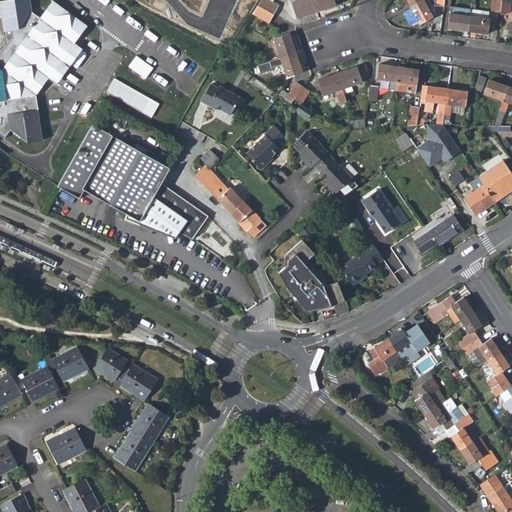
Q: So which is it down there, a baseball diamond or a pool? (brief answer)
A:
pool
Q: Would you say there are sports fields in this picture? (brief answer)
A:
No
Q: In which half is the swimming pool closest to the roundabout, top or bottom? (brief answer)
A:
bottom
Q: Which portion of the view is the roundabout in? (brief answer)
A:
bottom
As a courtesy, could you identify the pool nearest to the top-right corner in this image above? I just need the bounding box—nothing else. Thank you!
[402,8,420,28]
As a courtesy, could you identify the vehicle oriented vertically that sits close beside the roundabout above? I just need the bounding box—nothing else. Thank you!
[309,348,325,392]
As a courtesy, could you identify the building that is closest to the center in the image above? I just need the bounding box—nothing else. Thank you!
[240,212,266,238]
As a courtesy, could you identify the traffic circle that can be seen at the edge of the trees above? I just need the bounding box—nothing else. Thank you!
[242,350,296,404]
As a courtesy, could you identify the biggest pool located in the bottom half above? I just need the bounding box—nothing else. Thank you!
[412,352,438,378]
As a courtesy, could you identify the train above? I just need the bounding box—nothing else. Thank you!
[0,236,58,267]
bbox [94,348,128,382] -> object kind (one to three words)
house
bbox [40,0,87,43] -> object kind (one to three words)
shed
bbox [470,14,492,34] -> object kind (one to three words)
house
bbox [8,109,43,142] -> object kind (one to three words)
building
